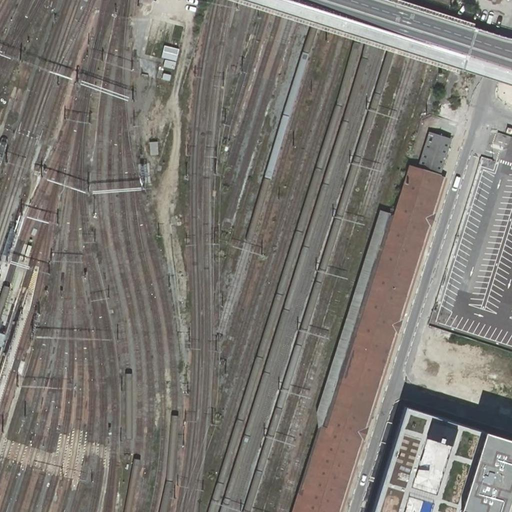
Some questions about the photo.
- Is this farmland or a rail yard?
rail yard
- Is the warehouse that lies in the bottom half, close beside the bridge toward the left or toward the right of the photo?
right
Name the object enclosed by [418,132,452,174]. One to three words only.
building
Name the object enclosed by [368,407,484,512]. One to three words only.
building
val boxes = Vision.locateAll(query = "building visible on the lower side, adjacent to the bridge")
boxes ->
[290,165,445,512]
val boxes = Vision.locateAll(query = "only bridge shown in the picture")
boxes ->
[218,0,512,81]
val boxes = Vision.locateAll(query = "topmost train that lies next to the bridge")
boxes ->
[248,22,321,240]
